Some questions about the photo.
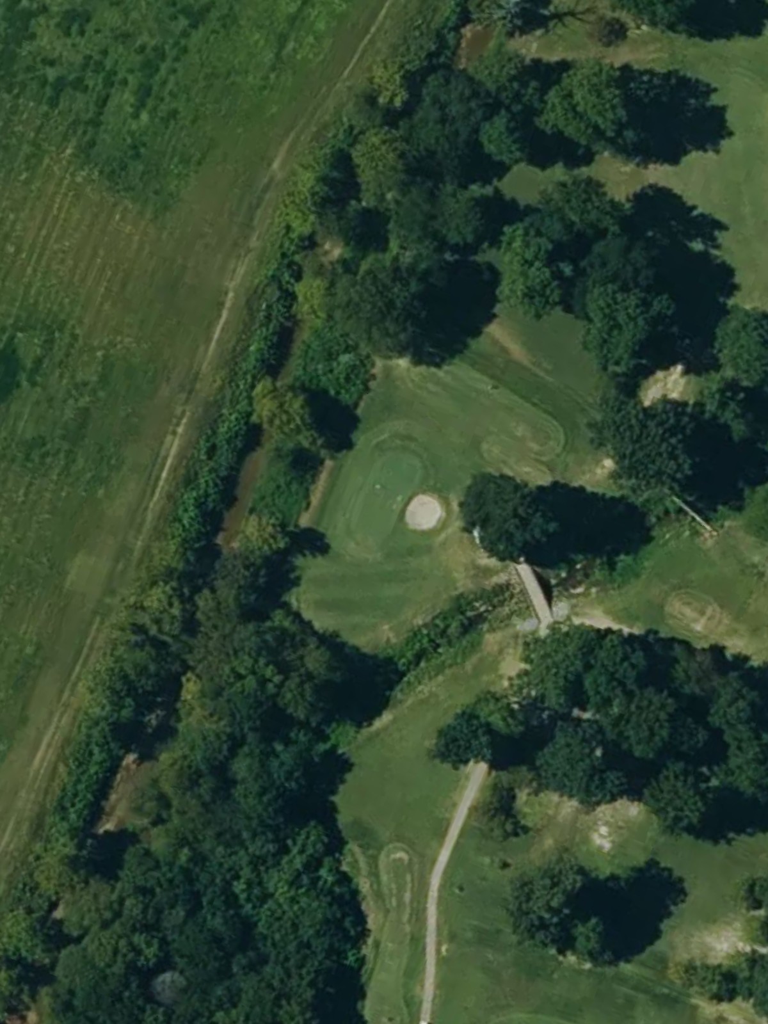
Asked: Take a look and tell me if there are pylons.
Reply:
No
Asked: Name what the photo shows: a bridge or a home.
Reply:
bridge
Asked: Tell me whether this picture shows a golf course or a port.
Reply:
golf course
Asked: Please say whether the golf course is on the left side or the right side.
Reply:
right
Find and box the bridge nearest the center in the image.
[513,552,552,625]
